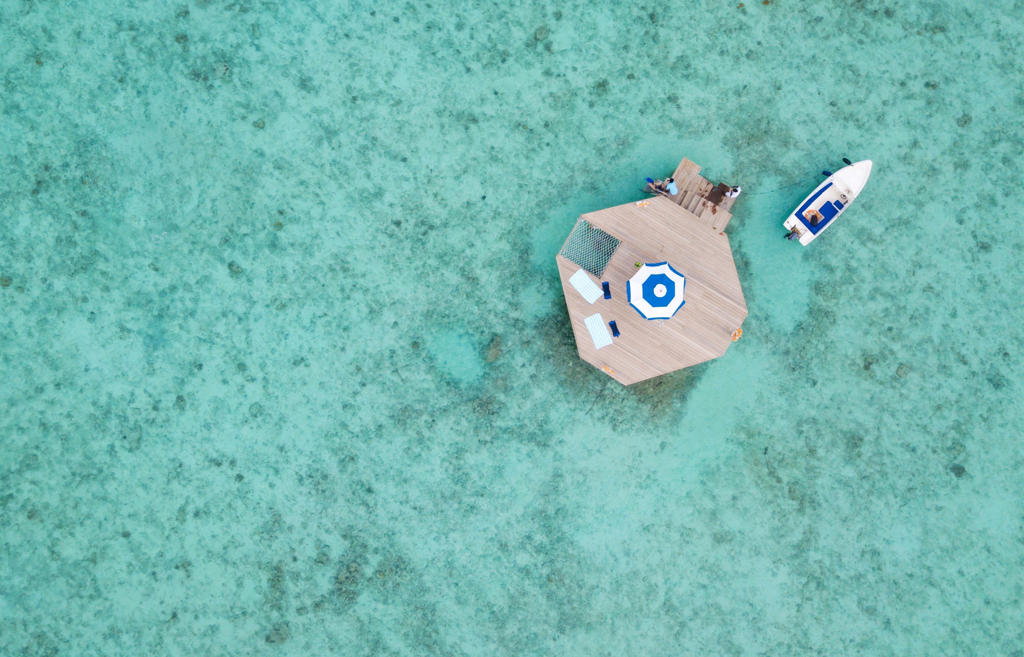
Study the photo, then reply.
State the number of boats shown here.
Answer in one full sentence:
There is 1 boat in the image.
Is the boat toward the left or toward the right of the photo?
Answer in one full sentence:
You can find the boat on the right side of the picture.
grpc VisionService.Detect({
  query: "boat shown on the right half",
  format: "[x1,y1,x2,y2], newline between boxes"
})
[783,159,873,246]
